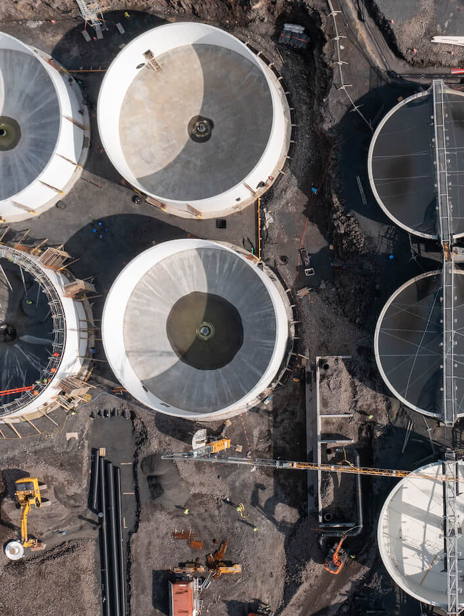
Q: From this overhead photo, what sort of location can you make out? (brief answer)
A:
industrial area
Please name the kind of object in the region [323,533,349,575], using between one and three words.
work vehicle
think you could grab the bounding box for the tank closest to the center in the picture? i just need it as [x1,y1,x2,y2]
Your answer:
[101,237,299,420]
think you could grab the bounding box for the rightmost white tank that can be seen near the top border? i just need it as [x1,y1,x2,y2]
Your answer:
[97,22,296,221]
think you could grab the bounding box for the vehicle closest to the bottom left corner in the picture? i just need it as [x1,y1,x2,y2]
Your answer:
[12,471,53,545]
